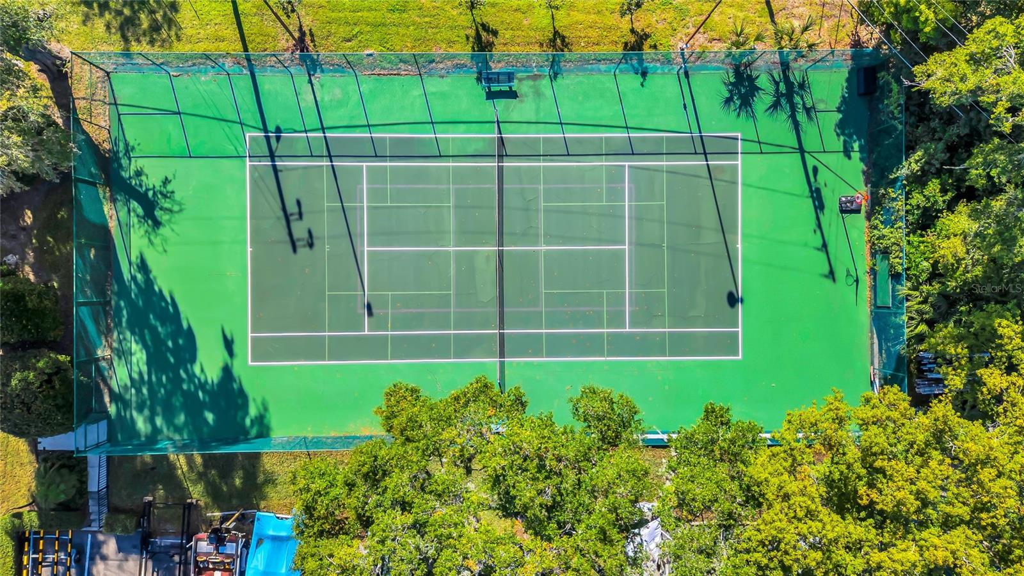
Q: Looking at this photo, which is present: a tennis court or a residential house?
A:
tennis court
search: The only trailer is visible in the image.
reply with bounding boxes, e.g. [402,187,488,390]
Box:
[133,495,197,576]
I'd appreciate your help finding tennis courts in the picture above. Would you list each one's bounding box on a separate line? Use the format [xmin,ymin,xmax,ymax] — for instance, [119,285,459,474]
[106,64,871,443]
